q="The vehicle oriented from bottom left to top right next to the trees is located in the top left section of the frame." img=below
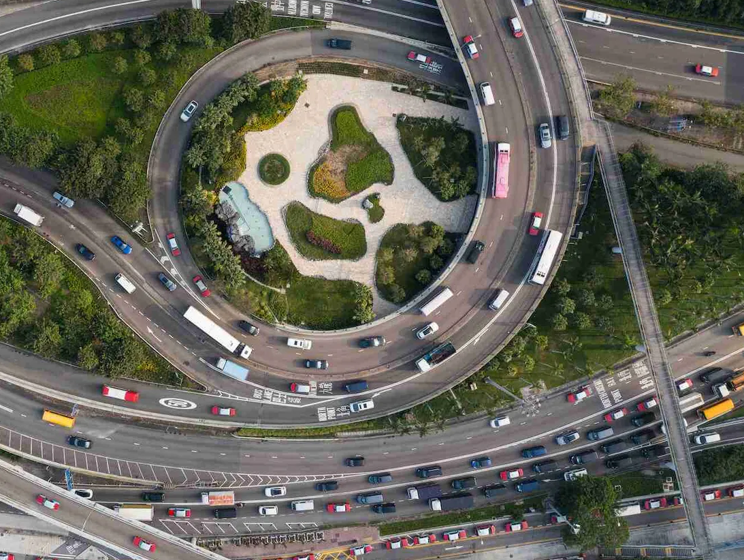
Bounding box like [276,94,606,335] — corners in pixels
[180,99,199,123]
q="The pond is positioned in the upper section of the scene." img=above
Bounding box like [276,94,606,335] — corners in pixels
[218,181,276,256]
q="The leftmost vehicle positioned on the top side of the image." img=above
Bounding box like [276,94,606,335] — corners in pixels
[15,204,46,226]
